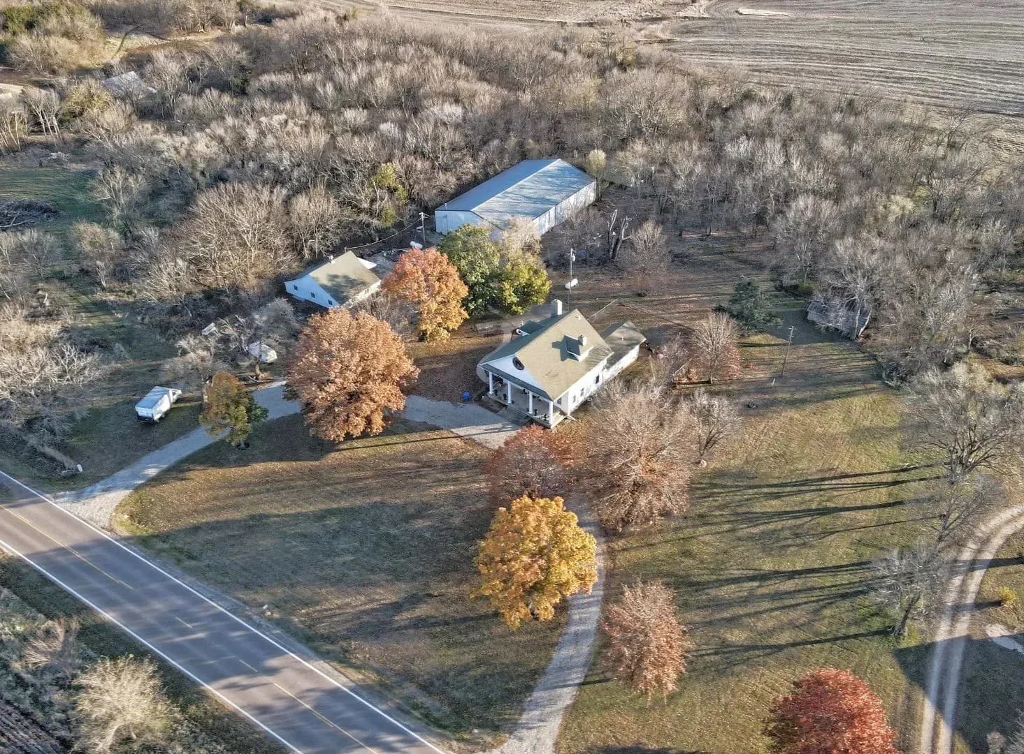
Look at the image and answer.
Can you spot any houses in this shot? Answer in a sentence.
Yes, a house appears in the view.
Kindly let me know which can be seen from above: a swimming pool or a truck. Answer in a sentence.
The one in the frame is a truck.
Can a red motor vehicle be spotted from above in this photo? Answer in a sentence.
No, I find no red motor vehicle anywhere in the image.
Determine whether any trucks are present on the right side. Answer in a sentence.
No, the scene shows no truck on the right side.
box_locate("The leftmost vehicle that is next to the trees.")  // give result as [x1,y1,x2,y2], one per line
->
[135,385,186,422]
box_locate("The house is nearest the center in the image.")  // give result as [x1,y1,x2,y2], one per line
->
[477,295,645,429]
